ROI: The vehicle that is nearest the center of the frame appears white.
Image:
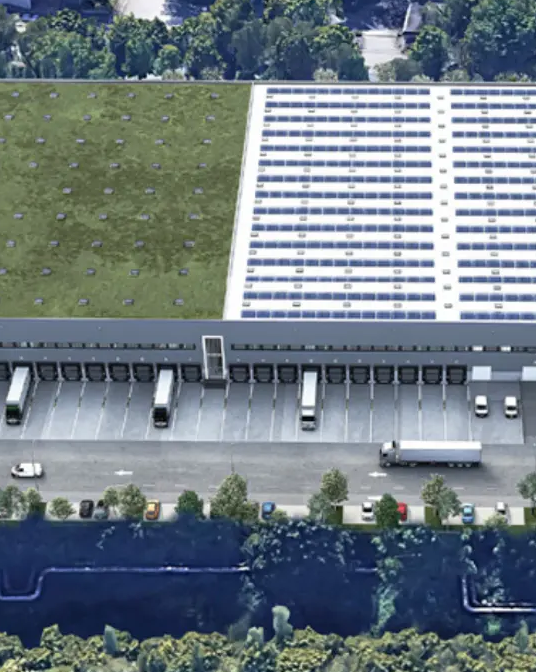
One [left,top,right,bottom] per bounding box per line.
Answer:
[300,371,319,431]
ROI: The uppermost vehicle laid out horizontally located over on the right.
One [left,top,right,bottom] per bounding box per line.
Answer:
[380,441,483,468]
